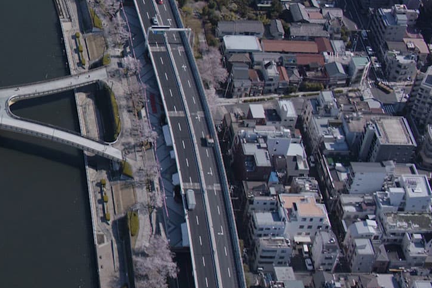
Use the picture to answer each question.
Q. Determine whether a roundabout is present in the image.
No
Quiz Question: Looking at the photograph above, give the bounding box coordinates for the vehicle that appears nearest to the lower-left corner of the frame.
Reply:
[188,188,200,212]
